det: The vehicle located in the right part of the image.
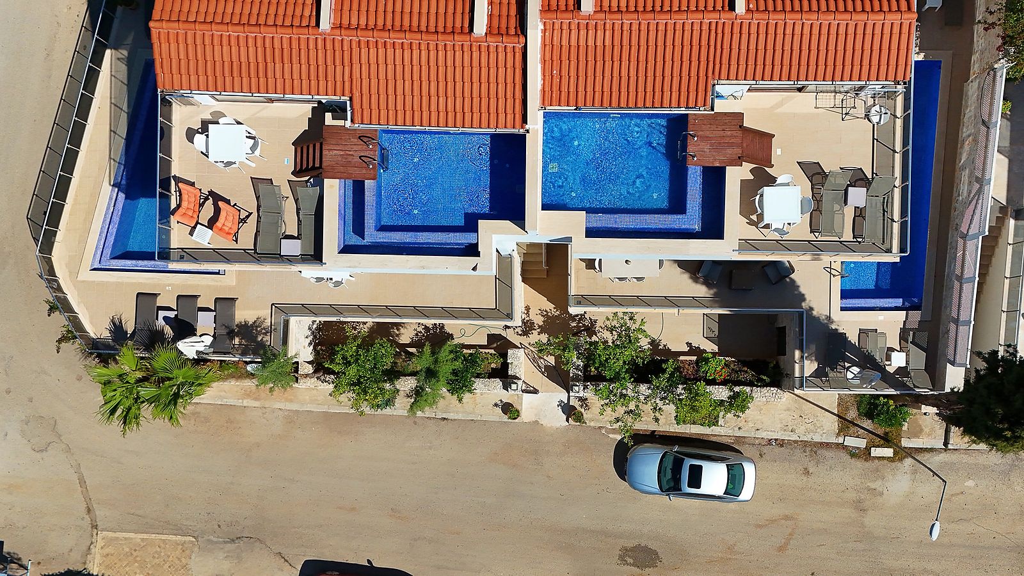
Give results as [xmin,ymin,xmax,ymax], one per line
[623,440,758,505]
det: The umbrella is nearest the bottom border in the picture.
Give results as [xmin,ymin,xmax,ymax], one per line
[855,364,897,387]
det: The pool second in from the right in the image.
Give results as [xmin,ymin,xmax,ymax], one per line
[527,109,741,261]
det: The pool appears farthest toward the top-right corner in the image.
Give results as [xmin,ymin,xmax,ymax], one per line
[839,60,942,310]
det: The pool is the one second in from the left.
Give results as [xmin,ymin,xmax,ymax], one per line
[323,122,532,274]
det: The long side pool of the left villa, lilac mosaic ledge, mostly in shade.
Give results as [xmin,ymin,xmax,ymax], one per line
[90,58,231,274]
